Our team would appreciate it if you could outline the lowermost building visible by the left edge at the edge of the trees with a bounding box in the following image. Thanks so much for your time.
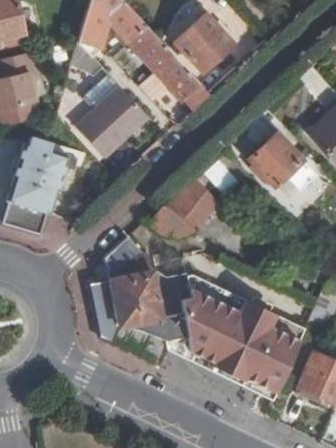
[8,136,68,214]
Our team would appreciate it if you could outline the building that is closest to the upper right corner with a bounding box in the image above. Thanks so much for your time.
[301,68,332,101]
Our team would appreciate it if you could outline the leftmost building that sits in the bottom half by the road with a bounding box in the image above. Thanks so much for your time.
[90,236,184,344]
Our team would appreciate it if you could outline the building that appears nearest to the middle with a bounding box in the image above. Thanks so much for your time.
[152,180,216,240]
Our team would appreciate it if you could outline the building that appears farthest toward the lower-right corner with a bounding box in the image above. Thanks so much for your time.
[296,350,336,408]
